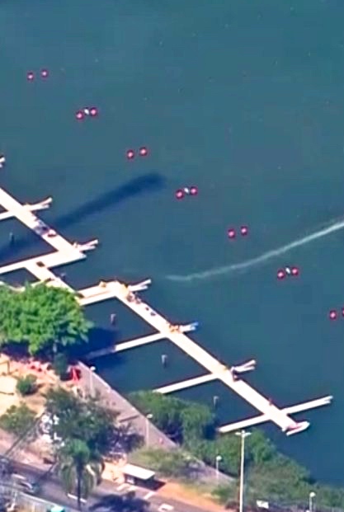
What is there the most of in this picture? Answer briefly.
water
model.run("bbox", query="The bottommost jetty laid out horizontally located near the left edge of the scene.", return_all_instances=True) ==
[0,249,87,272]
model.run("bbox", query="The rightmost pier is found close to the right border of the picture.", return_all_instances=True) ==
[287,396,334,415]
